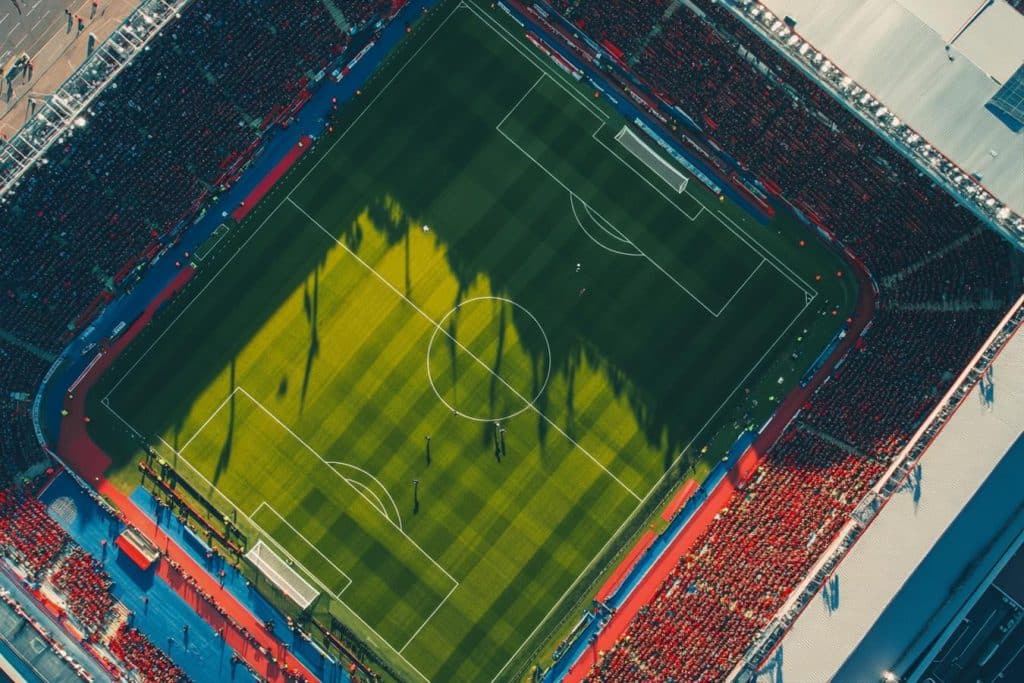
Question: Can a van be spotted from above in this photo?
No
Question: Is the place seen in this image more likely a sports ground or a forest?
sports ground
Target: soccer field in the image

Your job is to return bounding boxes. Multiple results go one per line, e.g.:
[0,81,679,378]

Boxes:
[101,0,822,683]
